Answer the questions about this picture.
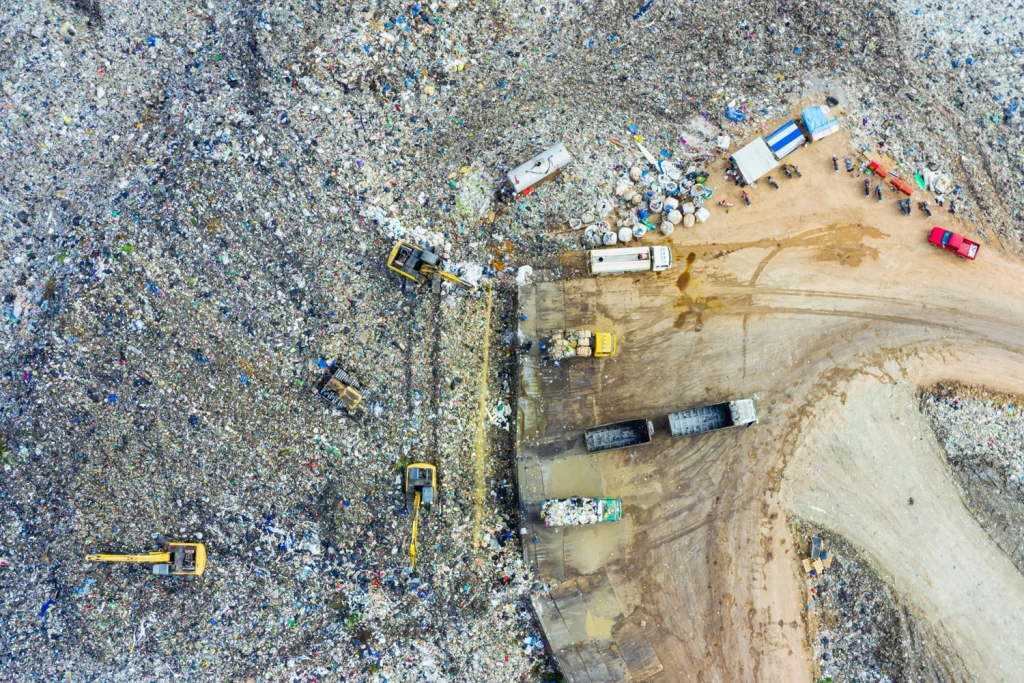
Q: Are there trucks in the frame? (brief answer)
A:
Yes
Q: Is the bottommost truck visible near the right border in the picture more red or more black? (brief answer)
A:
red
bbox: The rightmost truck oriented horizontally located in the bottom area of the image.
[665,396,757,437]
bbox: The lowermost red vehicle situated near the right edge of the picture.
[923,226,981,260]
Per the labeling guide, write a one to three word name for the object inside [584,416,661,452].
trailer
